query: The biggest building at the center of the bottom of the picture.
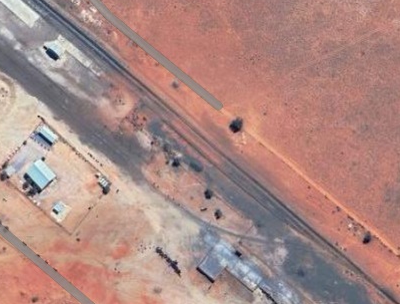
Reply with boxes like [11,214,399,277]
[199,252,227,281]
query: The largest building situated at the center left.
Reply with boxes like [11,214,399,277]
[26,160,55,190]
